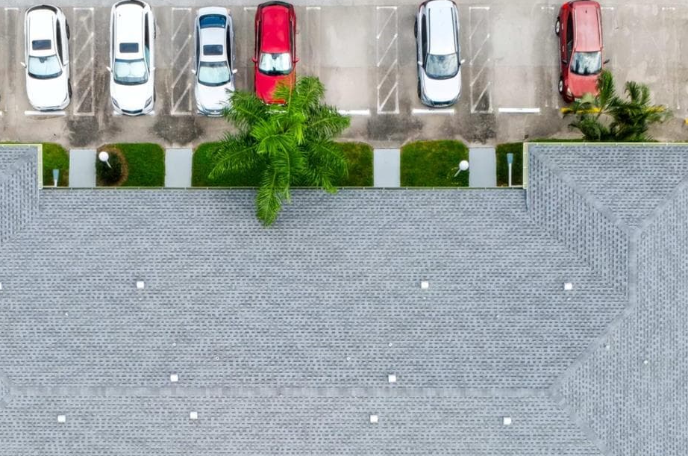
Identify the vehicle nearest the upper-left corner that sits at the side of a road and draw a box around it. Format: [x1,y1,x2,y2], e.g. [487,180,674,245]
[19,7,71,114]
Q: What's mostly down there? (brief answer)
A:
buildings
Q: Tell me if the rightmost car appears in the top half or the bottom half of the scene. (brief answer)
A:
top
